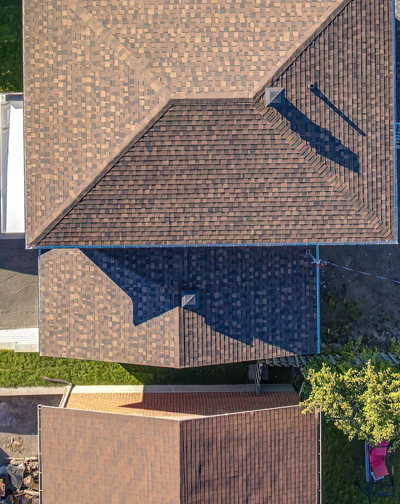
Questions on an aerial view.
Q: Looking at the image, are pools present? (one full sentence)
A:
No, I can see no pool in this picture.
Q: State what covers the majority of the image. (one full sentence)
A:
The bulk of the photo consists of buildings.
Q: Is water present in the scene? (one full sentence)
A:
No, there is no water in the image.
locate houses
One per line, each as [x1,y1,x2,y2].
[36,376,322,504]
[0,0,400,365]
